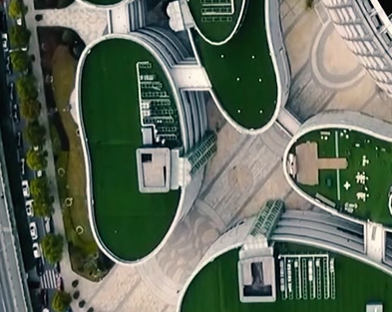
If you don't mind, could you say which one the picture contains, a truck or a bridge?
bridge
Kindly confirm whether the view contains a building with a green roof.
Yes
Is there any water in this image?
No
